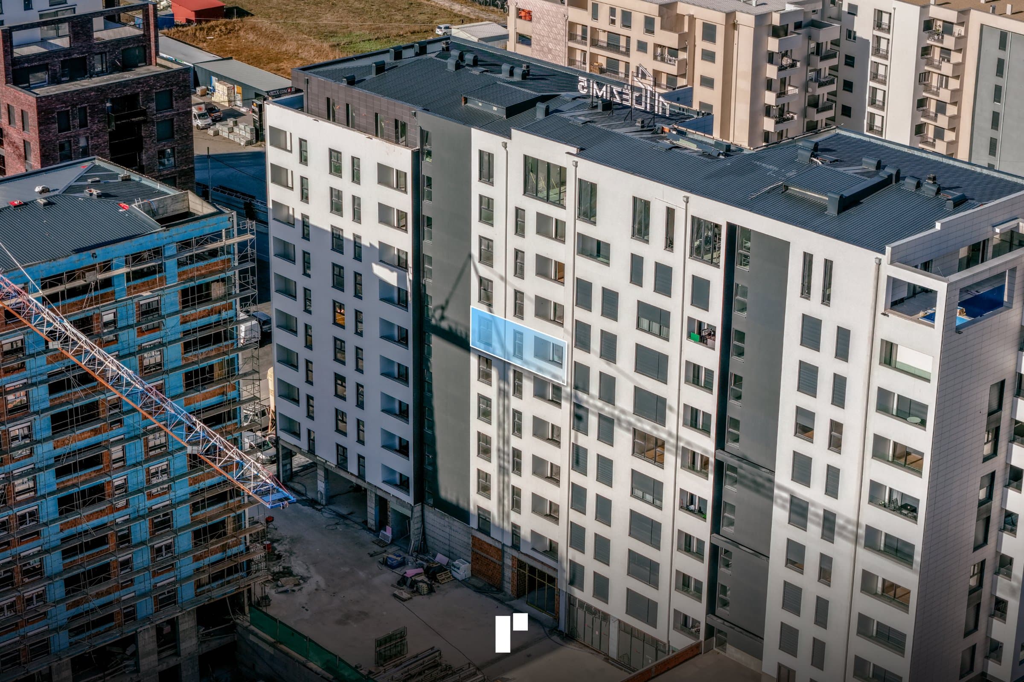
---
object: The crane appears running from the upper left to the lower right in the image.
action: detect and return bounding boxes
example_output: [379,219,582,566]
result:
[0,253,302,511]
